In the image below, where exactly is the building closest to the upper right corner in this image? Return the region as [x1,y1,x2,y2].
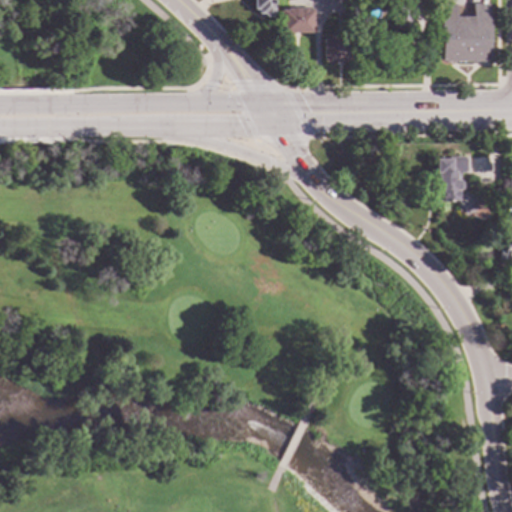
[446,1,496,62]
